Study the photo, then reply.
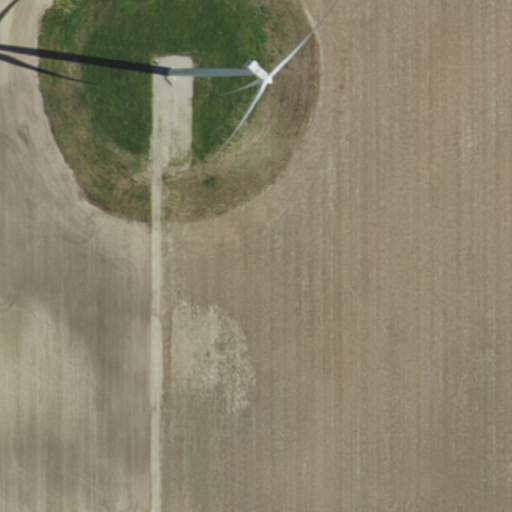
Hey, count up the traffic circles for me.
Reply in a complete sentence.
The count of traffic circles is 0.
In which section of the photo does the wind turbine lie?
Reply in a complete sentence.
The wind turbine is located in the top region of the scene.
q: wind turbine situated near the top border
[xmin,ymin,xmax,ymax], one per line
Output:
[167,0,339,158]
